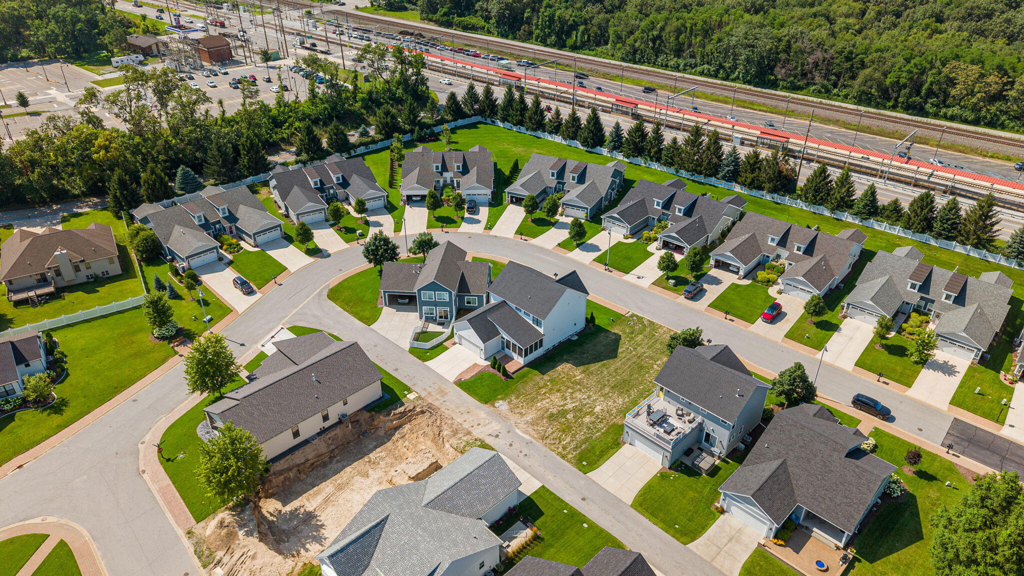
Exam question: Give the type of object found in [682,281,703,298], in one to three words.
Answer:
car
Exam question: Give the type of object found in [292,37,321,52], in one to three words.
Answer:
vehicle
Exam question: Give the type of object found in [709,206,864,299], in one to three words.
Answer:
house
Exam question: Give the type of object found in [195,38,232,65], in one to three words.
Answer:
building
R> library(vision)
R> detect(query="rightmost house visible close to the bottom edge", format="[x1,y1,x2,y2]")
[718,398,893,576]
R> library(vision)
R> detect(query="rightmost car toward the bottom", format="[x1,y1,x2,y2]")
[850,392,894,421]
